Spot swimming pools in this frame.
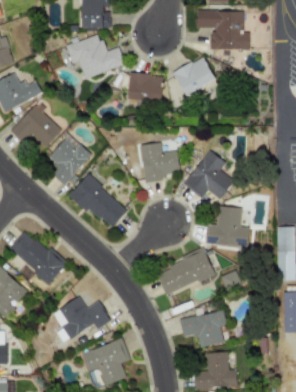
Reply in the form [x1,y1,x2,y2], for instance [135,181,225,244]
[232,135,246,162]
[234,301,249,321]
[100,106,119,116]
[62,364,80,383]
[254,200,266,224]
[75,126,96,144]
[50,2,62,27]
[246,54,266,72]
[194,287,216,302]
[60,72,78,86]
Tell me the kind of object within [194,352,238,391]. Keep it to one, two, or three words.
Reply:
house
